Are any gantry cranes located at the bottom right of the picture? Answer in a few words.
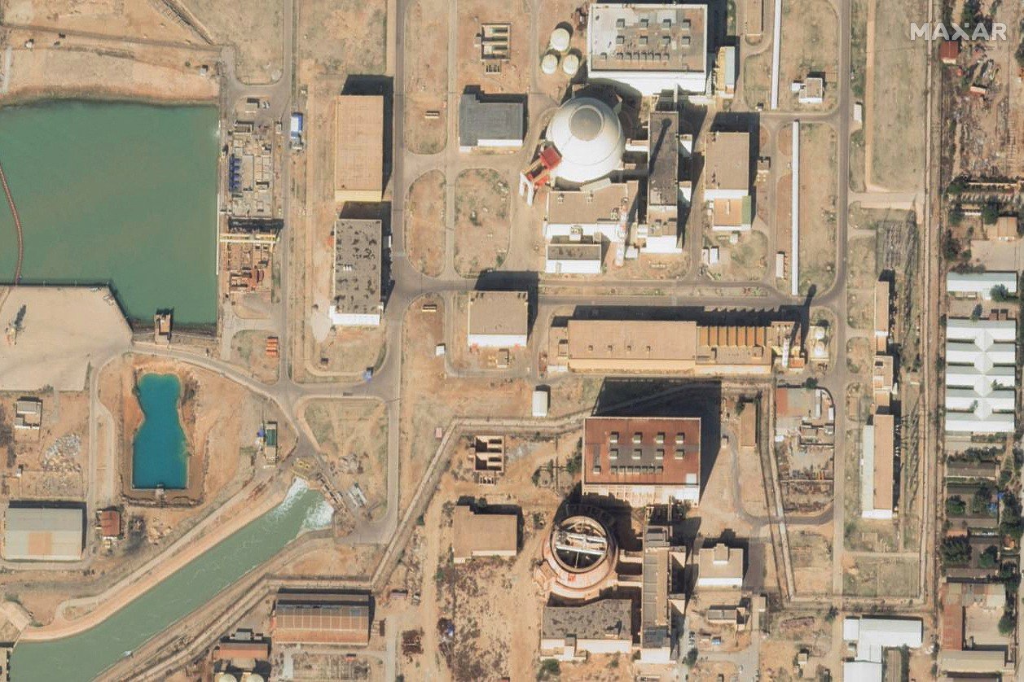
No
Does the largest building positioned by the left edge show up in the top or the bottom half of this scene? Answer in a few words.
bottom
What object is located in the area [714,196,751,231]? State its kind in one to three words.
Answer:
building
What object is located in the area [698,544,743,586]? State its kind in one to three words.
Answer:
building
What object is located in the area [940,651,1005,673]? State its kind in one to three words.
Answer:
shed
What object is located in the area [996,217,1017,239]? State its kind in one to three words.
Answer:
house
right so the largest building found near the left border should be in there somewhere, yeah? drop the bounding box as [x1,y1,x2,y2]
[4,508,83,560]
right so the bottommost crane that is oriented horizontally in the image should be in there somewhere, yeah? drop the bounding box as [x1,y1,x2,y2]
[219,233,278,258]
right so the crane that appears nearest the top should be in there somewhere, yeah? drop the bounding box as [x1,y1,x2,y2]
[519,146,560,206]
